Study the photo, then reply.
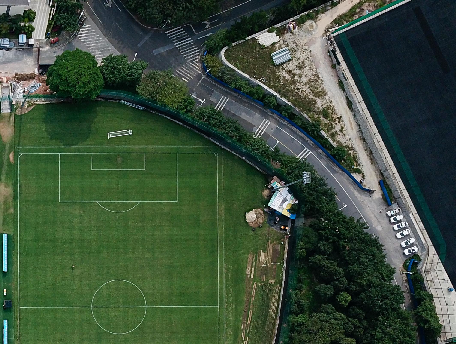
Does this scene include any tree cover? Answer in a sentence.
Yes, tree cover shows up in the scene.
